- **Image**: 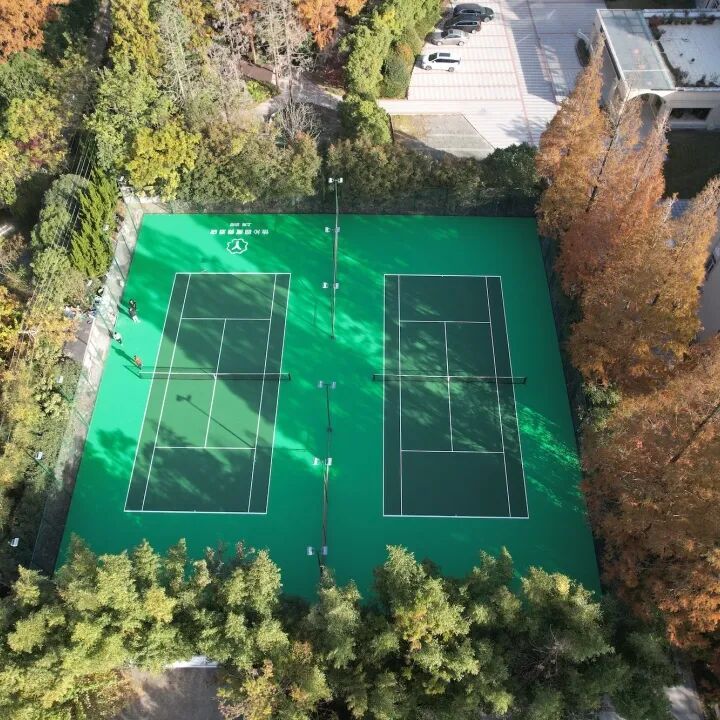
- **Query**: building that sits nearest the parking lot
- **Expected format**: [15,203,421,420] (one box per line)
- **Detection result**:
[586,8,720,129]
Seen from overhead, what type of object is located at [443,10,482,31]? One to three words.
car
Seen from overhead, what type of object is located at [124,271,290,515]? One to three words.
tennis court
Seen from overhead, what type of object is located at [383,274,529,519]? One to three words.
tennis court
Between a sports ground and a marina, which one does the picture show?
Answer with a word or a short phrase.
sports ground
